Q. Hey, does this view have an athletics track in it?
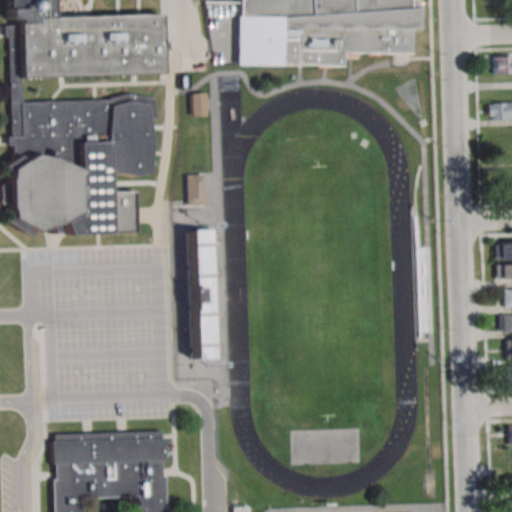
Yes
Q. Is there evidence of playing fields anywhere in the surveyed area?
Yes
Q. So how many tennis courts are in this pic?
none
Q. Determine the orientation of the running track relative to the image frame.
up and down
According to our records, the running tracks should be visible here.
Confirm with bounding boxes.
[220,76,416,498]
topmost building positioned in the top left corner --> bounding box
[6,0,168,80]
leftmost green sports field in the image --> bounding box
[244,106,396,477]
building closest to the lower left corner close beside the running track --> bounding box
[48,431,174,512]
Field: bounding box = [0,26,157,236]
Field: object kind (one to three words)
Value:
building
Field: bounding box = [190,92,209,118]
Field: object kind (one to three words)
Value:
shed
